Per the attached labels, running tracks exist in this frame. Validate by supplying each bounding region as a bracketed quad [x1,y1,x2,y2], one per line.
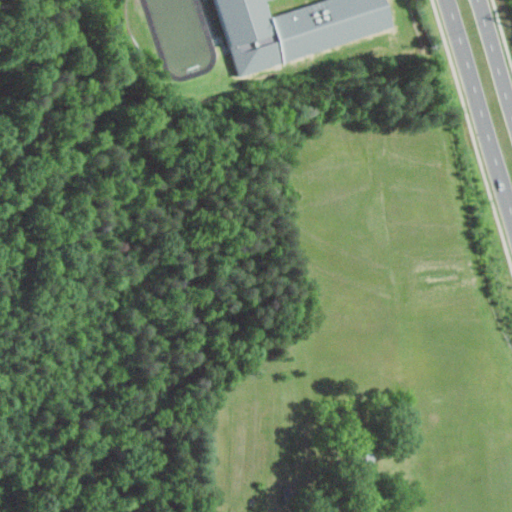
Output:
[142,0,216,82]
